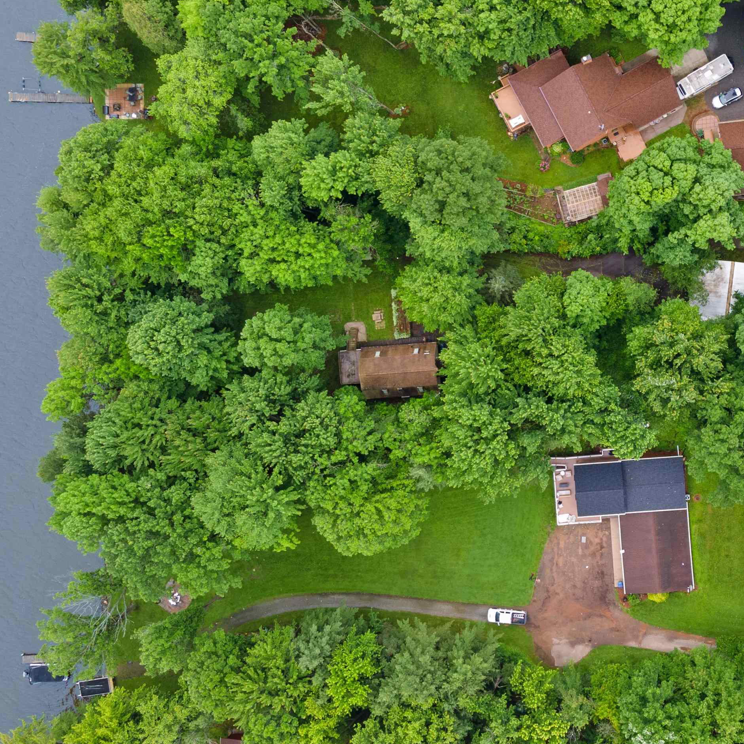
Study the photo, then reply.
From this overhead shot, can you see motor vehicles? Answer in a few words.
Yes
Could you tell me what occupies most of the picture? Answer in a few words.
trees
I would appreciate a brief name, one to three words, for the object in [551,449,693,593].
house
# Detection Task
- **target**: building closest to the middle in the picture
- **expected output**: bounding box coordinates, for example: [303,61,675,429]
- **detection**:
[336,328,444,399]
